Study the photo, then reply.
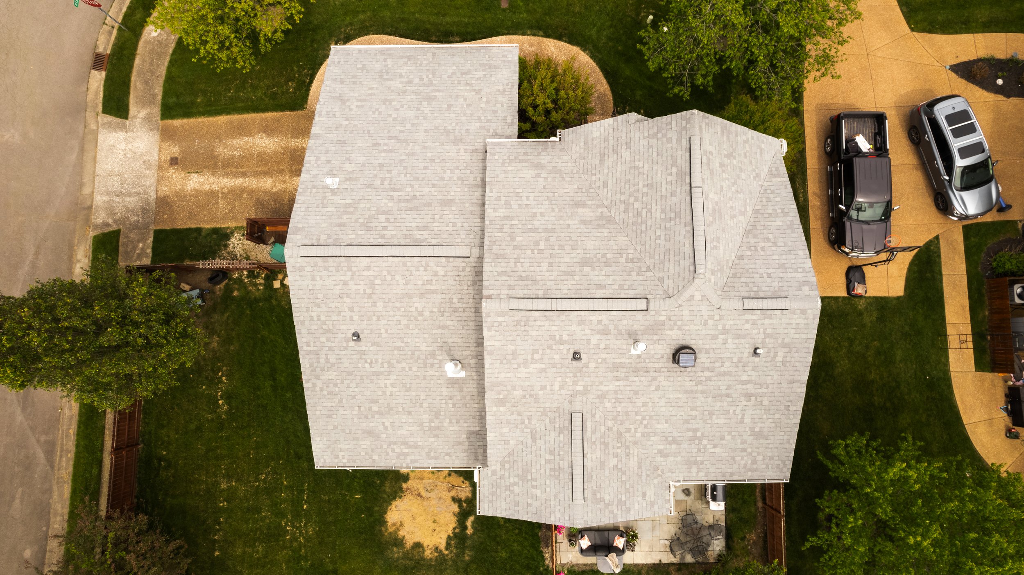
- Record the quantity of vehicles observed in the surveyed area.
two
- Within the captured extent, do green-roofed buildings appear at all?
No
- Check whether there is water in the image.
No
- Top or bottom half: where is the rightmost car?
top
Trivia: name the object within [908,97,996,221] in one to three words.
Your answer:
car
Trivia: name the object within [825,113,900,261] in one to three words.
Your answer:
truck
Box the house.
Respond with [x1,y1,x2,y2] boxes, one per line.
[285,43,821,526]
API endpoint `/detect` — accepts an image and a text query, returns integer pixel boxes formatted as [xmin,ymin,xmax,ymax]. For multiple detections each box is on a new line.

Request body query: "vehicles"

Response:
[825,113,900,261]
[908,97,996,221]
